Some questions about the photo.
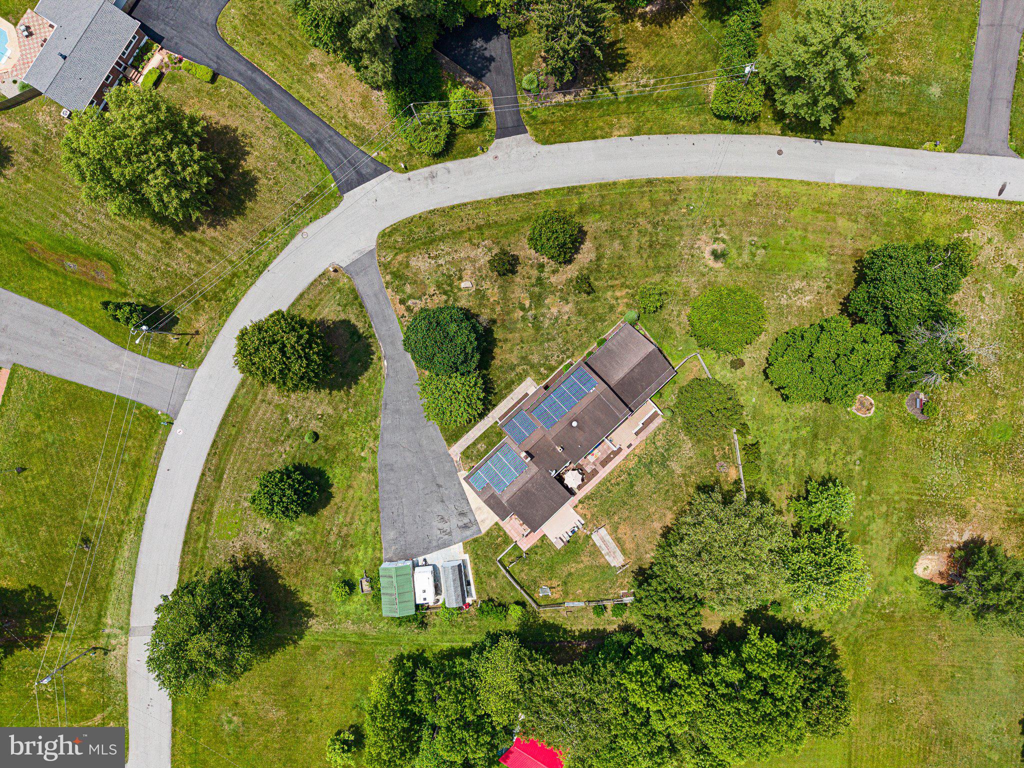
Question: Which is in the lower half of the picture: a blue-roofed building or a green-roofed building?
green-roofed building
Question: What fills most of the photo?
grass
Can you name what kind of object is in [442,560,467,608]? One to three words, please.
shed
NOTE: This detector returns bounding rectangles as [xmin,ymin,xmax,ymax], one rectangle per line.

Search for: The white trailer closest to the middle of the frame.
[415,557,435,603]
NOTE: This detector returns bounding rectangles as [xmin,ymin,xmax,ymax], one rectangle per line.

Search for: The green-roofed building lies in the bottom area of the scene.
[380,560,416,617]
